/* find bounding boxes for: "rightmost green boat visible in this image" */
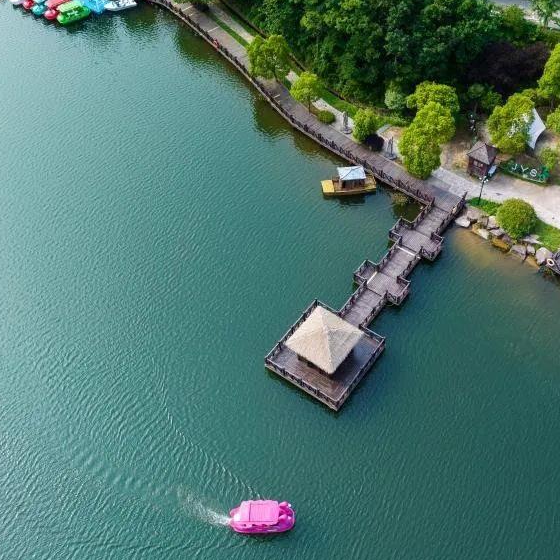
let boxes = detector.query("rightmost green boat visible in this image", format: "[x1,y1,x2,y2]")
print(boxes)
[58,0,90,25]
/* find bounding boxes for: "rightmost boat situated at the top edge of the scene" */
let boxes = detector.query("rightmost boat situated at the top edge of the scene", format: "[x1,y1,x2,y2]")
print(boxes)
[100,0,139,14]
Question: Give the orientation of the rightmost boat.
from left to right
